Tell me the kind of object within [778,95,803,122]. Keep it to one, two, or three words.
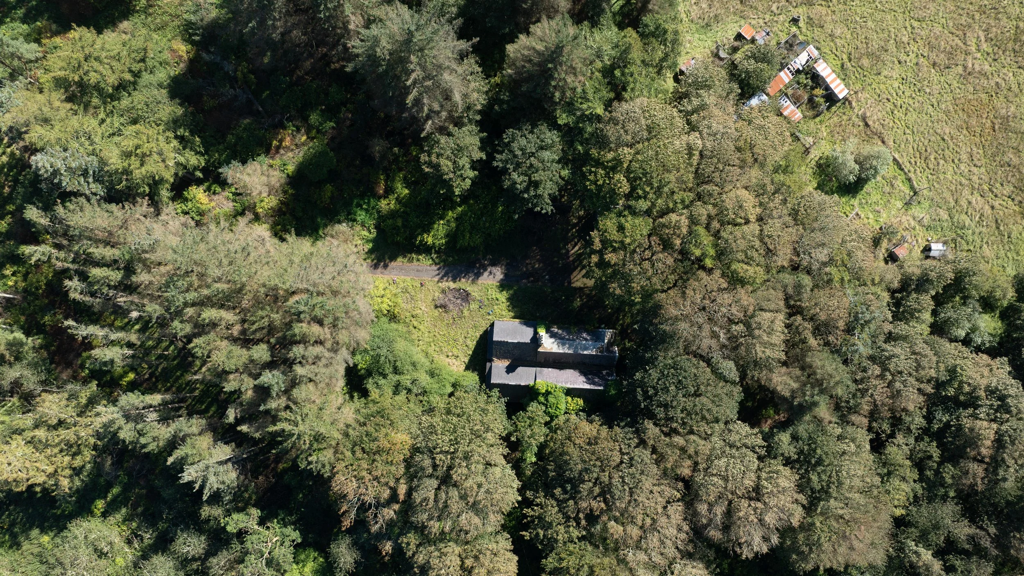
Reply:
shed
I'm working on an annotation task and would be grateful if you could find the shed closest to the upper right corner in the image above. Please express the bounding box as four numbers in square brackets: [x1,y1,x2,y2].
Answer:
[811,59,849,101]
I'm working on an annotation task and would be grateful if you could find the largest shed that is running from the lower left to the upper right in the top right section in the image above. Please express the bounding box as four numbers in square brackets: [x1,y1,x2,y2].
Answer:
[765,45,818,100]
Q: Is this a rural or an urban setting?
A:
rural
